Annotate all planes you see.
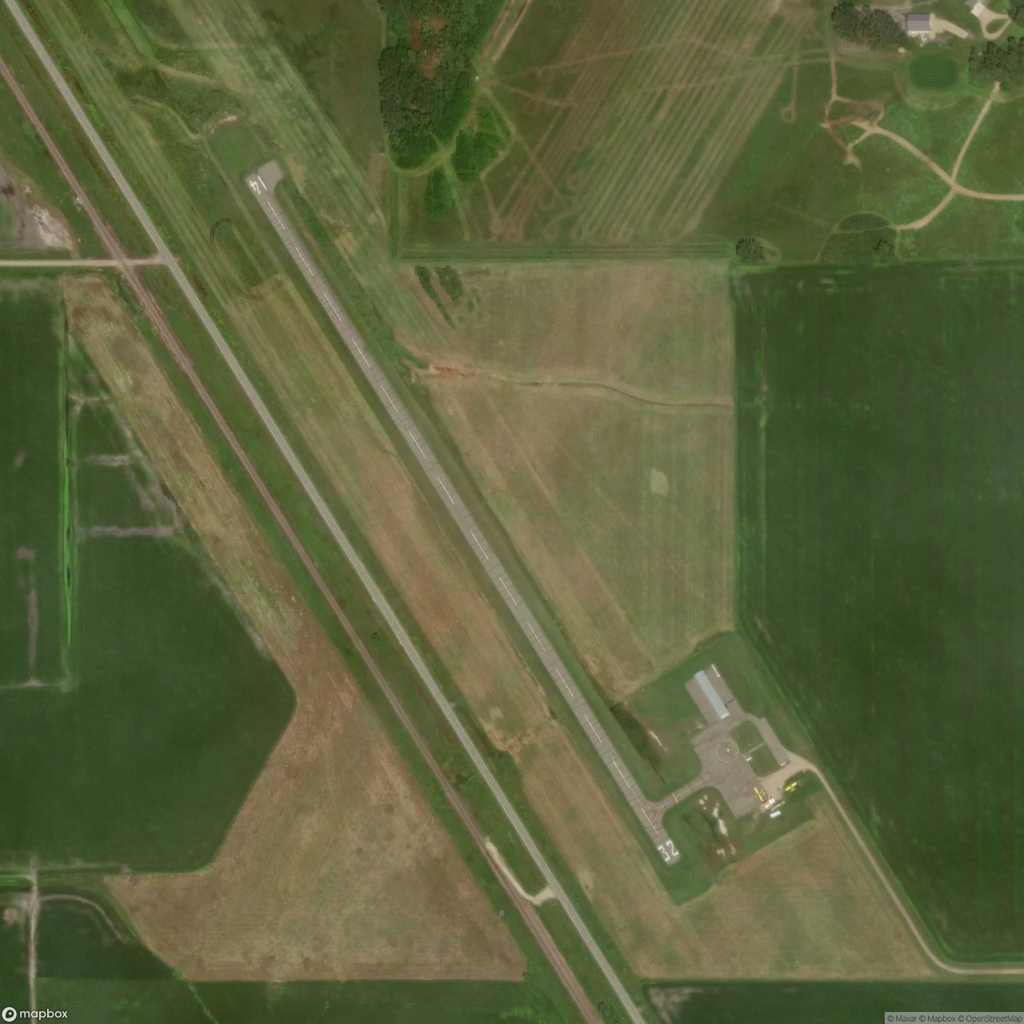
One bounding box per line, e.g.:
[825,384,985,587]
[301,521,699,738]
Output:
[754,787,765,801]
[785,782,797,791]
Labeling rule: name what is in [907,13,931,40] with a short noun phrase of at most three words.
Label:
house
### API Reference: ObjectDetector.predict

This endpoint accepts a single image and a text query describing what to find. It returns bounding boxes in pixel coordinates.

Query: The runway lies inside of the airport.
[245,161,680,864]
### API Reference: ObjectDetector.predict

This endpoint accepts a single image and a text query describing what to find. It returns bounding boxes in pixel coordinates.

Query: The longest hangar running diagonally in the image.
[693,671,730,718]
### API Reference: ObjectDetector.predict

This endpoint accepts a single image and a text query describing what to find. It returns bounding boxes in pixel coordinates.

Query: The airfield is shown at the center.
[245,161,790,864]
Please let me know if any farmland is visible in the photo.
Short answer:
Yes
